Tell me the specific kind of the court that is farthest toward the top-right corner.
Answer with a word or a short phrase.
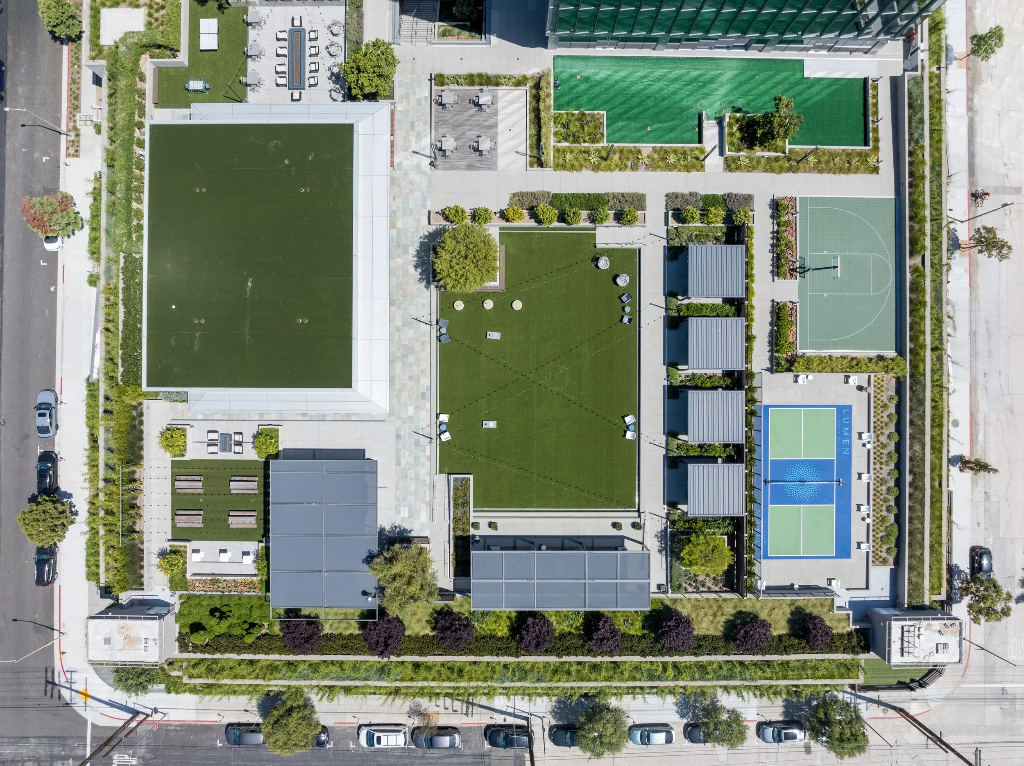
basketball court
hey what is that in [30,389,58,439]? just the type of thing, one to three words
car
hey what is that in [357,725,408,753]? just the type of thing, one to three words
car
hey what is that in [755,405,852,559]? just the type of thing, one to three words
sports court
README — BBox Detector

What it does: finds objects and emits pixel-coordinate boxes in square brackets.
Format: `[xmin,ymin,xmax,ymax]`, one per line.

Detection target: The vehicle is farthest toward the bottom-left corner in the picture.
[28,548,57,592]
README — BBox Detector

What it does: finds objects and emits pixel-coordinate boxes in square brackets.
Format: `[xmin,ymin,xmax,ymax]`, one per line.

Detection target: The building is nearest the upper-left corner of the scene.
[144,103,391,412]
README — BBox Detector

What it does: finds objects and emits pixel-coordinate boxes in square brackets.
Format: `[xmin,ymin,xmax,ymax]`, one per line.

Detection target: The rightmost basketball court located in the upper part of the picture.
[799,196,896,353]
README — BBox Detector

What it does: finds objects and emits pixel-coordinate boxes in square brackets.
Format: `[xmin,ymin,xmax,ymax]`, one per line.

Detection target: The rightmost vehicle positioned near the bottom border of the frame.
[761,721,810,749]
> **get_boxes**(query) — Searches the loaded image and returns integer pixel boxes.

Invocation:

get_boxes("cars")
[686,724,717,751]
[30,389,58,439]
[357,725,408,753]
[410,727,461,754]
[761,721,810,749]
[223,724,264,751]
[309,725,327,748]
[28,548,57,592]
[630,724,677,750]
[29,452,58,499]
[550,725,587,752]
[486,726,534,754]
[972,546,1000,587]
